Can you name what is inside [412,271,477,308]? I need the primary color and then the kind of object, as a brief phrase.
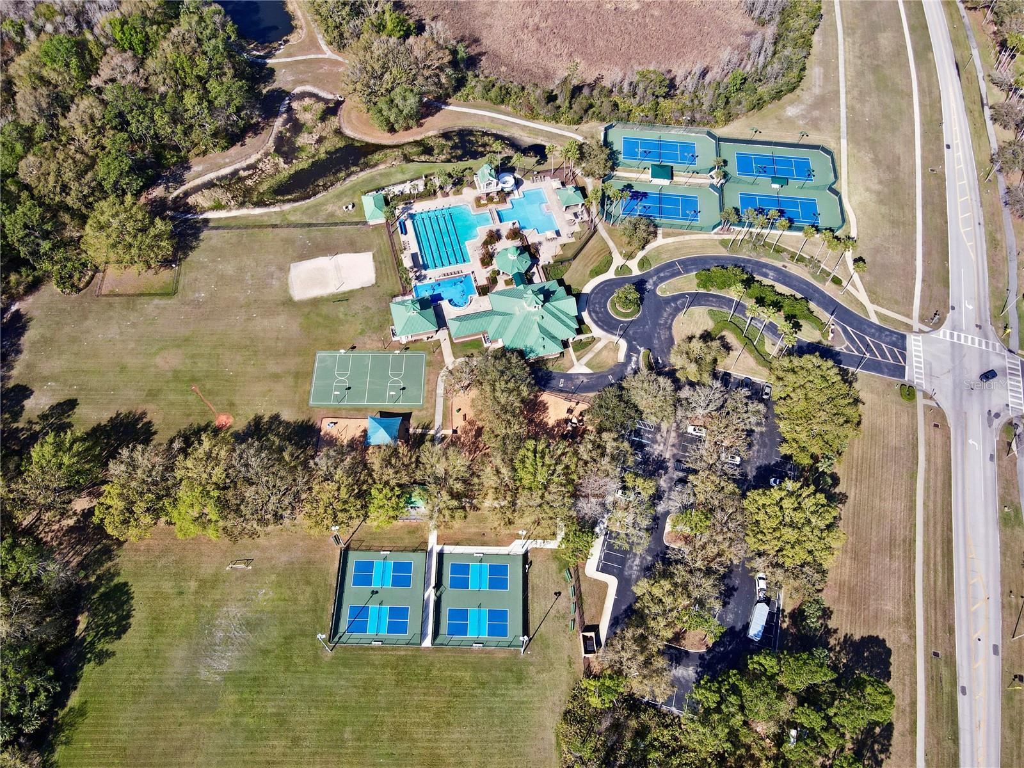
blue swimming pool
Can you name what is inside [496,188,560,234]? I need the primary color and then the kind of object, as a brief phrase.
blue swimming pool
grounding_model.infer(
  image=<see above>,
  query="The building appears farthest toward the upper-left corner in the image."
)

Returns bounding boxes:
[363,194,386,227]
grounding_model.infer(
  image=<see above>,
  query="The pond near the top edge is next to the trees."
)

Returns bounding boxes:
[225,0,292,42]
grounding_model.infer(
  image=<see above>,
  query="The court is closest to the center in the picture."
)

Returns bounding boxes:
[365,351,426,408]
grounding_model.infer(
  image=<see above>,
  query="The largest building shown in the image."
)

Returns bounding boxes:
[448,280,580,361]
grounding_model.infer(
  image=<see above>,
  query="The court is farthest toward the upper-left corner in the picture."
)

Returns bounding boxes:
[287,251,376,302]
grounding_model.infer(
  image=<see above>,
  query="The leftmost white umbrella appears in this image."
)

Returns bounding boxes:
[400,254,417,266]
